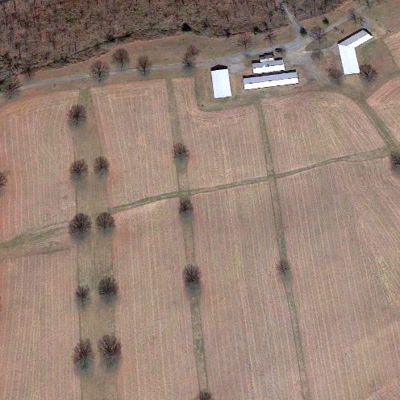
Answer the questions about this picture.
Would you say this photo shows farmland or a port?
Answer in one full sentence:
The picture captures farmland.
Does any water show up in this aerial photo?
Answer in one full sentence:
No, there's no water in this view.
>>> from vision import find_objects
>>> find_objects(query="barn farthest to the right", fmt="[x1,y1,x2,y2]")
[338,29,372,78]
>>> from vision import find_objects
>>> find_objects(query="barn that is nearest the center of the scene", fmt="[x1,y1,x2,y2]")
[211,68,231,101]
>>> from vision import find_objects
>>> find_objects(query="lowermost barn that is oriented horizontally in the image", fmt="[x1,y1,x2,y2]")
[243,71,299,92]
